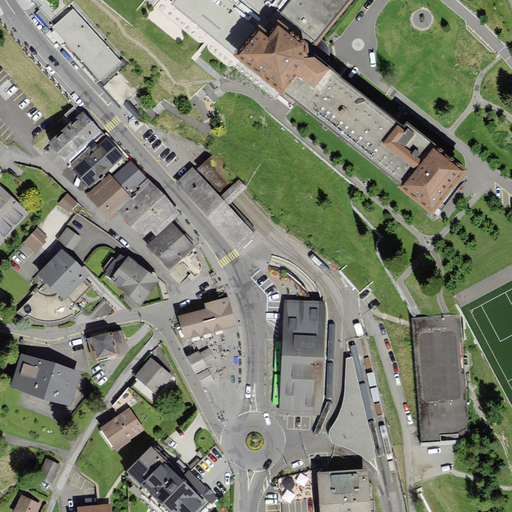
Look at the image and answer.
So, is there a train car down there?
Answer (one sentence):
Yes, there's a train car down there.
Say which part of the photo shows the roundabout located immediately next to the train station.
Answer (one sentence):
The roundabout located immediately next to the train station appears toward the bottom of the photo.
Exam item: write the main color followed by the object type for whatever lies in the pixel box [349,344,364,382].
gray rail car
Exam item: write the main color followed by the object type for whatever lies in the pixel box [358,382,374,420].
gray rail car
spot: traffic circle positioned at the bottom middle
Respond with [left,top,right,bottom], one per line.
[227,413,282,468]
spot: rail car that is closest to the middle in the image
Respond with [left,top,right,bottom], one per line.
[308,252,330,274]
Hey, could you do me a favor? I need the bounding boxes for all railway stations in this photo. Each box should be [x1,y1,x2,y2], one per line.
[280,300,325,415]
